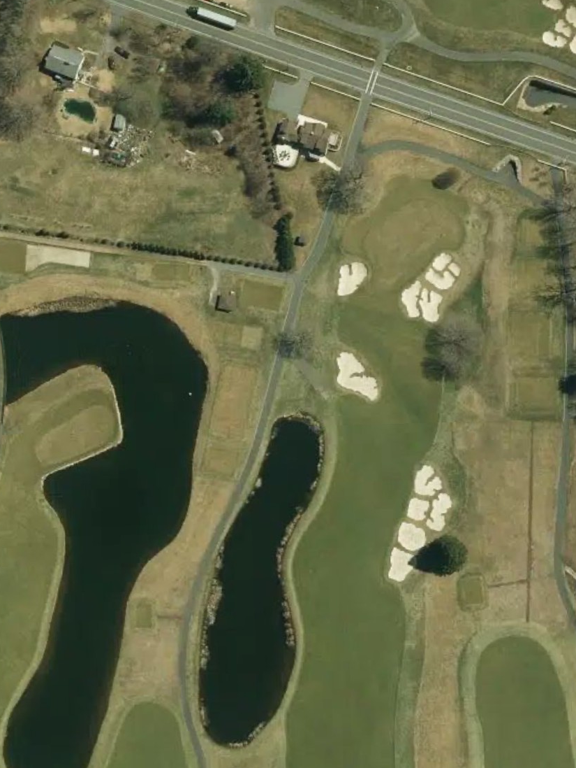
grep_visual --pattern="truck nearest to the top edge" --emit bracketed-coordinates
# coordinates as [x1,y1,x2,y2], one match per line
[185,2,236,25]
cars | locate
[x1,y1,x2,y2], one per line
[108,57,115,69]
[115,47,128,57]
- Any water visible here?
Yes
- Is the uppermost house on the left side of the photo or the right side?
left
